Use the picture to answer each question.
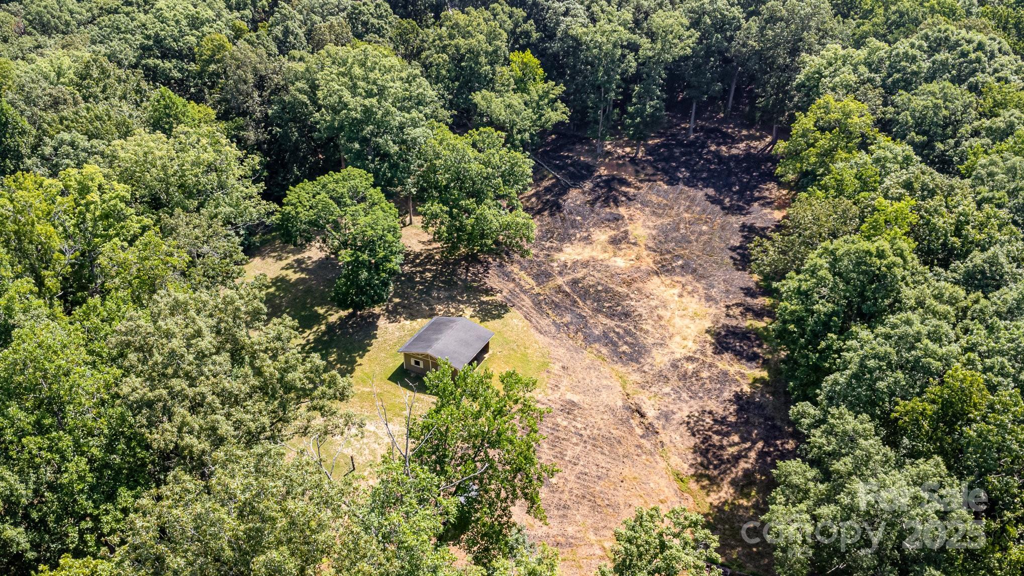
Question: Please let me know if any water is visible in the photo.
No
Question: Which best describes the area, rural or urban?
rural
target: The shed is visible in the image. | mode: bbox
[398,316,494,386]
